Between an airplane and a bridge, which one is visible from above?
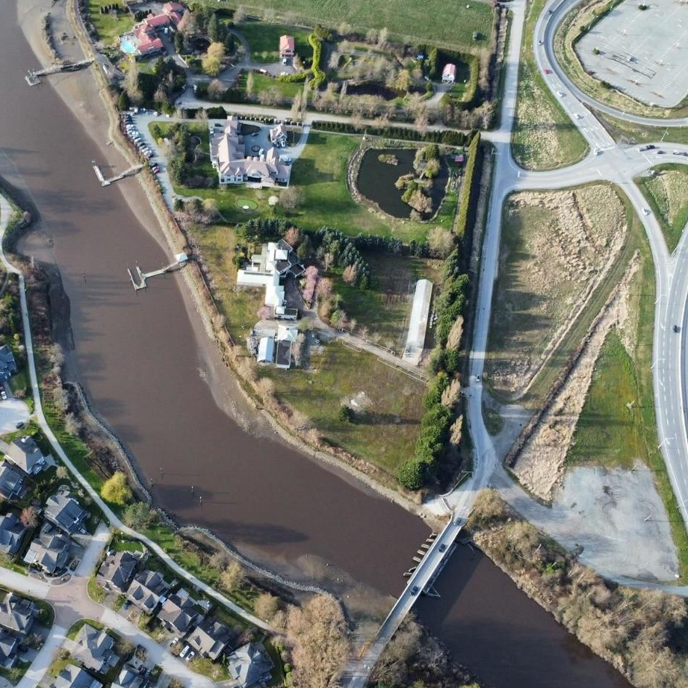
bridge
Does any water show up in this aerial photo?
Yes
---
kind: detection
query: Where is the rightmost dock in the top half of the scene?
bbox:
[126,252,189,291]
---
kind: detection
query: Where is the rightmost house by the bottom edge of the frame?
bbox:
[225,641,277,688]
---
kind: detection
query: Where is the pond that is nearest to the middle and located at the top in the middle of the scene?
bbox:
[350,144,456,224]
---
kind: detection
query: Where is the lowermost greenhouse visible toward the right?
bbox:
[403,282,431,362]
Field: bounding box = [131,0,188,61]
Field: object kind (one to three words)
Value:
house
